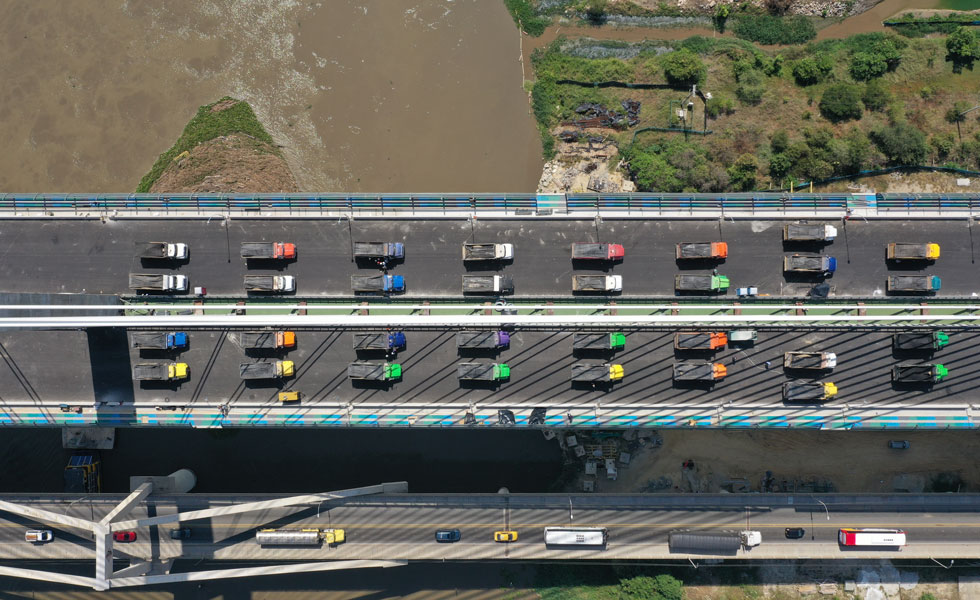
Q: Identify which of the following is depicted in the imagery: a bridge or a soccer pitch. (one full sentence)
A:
This aerial view contains a bridge.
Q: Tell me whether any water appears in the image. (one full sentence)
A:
Yes, some water is visible.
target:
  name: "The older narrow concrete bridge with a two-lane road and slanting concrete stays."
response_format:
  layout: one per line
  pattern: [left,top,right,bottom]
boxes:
[0,467,980,589]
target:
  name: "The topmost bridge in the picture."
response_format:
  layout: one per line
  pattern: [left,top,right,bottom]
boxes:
[0,192,980,432]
